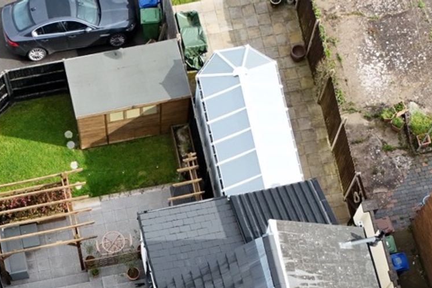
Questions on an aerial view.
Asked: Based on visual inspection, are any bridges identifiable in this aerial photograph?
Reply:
No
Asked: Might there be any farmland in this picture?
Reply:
No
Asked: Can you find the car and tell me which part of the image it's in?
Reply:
top left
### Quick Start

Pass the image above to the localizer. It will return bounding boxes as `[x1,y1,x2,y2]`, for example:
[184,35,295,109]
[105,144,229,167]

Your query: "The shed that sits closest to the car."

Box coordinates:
[64,38,194,153]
